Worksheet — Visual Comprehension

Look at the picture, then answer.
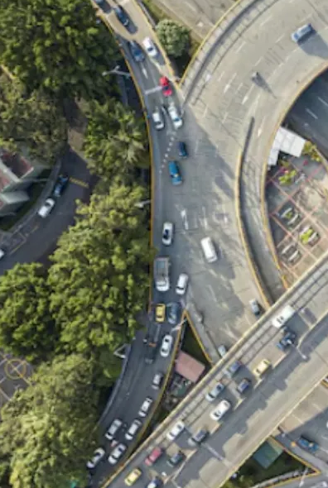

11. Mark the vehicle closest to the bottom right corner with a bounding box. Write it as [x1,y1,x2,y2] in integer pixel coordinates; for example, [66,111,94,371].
[295,437,317,452]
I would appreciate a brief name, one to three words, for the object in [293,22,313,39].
car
